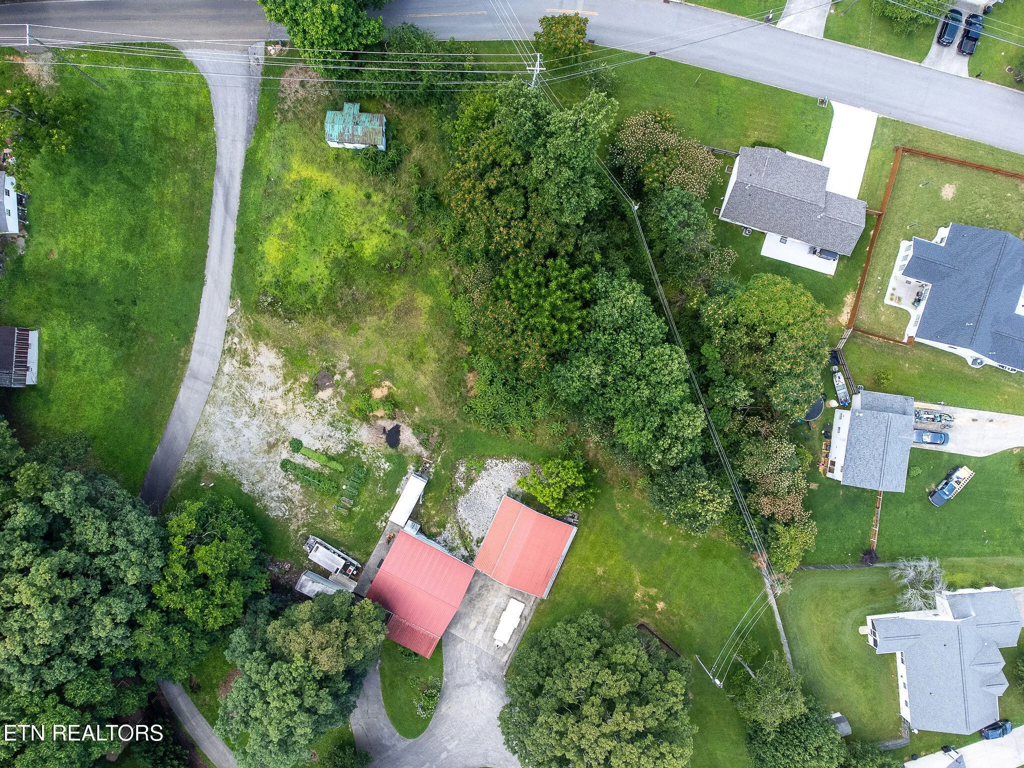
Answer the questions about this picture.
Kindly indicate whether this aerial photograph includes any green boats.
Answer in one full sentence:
No, I can see no green boat in this picture.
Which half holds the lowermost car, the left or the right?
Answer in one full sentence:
The lowermost car is on the right side of the image.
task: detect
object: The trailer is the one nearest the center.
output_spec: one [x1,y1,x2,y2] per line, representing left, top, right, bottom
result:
[387,469,430,530]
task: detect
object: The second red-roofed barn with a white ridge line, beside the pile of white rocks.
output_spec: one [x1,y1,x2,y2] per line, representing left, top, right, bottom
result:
[473,494,579,599]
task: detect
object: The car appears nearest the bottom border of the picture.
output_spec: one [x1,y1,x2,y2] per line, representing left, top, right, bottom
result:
[978,718,1013,740]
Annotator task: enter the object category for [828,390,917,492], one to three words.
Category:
house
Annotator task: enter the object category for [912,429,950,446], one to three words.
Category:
car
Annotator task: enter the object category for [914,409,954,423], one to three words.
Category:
boat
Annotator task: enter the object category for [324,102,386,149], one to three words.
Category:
shed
